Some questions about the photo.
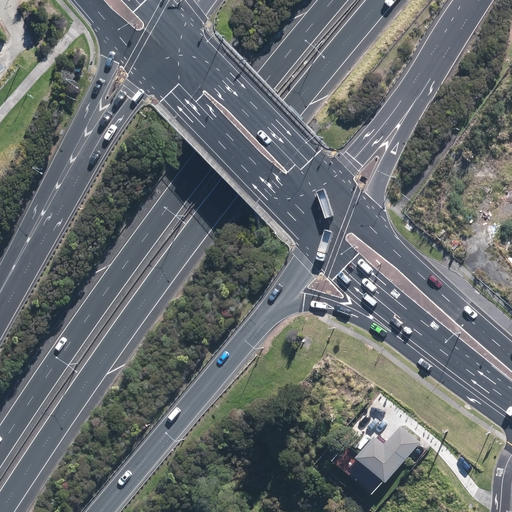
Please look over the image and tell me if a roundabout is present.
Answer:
No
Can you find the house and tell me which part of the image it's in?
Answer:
bottom right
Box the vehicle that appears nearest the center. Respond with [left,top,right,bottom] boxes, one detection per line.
[270,284,282,300]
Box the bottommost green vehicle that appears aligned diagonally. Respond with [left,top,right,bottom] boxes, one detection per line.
[370,322,387,336]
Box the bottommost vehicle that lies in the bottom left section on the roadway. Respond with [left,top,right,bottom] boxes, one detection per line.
[118,471,131,486]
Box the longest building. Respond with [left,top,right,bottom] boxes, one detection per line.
[347,426,421,494]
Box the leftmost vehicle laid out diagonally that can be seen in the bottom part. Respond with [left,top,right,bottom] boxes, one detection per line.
[54,336,68,352]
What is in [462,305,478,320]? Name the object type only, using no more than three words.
car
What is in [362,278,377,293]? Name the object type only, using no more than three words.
vehicle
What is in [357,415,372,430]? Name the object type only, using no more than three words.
car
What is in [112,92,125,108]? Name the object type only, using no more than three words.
vehicle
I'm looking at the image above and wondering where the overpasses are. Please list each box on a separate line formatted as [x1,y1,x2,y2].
[150,30,325,244]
